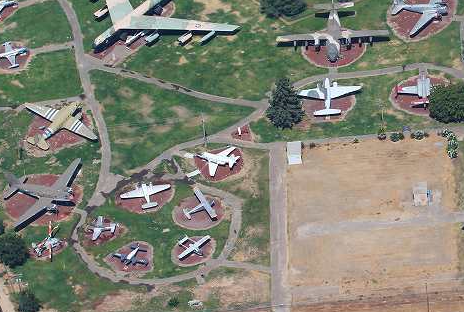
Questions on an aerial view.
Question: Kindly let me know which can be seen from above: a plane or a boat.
plane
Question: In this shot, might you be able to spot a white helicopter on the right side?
No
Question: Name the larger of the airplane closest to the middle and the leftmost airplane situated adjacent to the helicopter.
the leftmost airplane situated adjacent to the helicopter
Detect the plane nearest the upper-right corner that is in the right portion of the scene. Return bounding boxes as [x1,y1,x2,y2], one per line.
[389,0,449,33]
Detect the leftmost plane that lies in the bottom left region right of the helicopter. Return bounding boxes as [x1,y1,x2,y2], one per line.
[86,215,117,239]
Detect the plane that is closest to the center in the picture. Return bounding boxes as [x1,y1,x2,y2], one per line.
[196,147,243,176]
